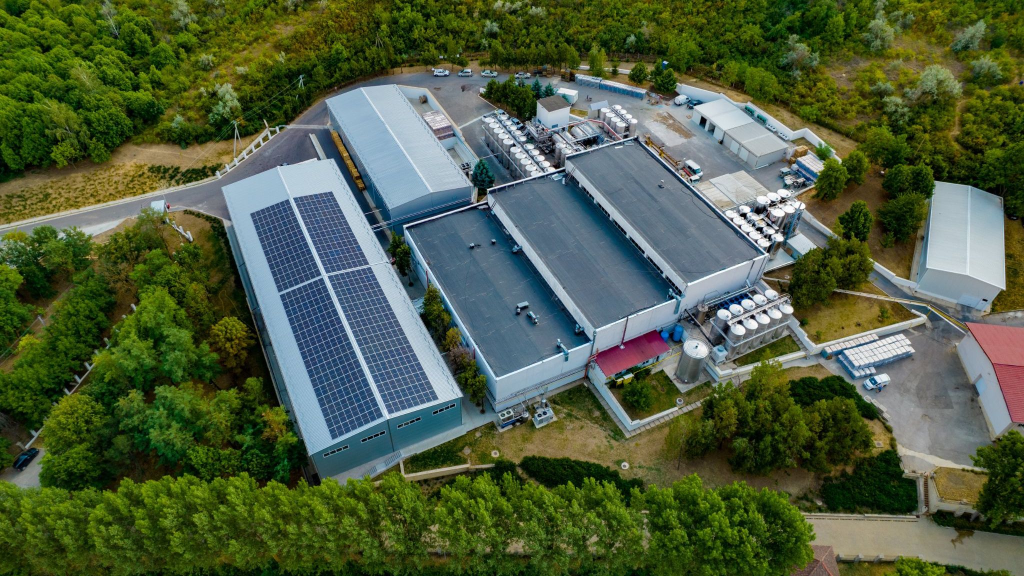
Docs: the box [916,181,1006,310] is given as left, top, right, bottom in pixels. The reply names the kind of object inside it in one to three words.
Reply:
building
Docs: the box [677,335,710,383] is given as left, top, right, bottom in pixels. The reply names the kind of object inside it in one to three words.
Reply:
storage tank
